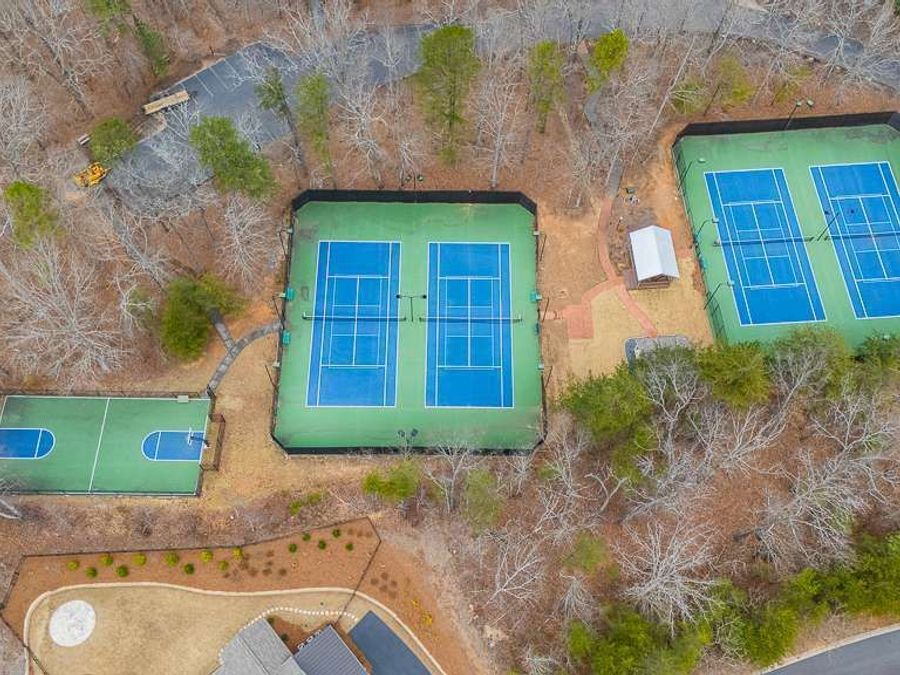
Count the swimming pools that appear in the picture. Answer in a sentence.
Not a single swimming pool can be seen.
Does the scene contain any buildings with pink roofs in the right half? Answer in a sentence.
No, no building with a pink roof can be made out in the right half.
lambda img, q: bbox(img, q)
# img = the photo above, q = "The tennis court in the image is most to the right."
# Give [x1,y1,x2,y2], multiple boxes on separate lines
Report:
[786,125,900,352]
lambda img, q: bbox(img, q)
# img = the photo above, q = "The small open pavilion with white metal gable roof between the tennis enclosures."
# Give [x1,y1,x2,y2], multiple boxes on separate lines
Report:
[625,228,680,292]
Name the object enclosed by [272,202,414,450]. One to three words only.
tennis court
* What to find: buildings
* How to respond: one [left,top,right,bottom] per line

[221,617,369,675]
[625,228,680,292]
